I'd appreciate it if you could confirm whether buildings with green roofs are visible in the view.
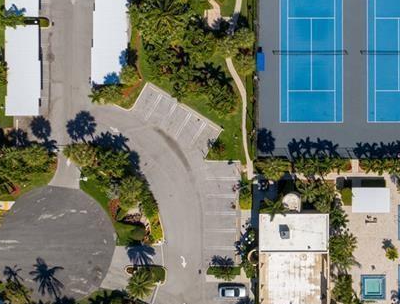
No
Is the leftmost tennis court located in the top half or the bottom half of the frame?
top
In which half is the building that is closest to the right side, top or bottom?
bottom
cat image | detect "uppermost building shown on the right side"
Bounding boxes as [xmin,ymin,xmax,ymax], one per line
[352,188,390,213]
